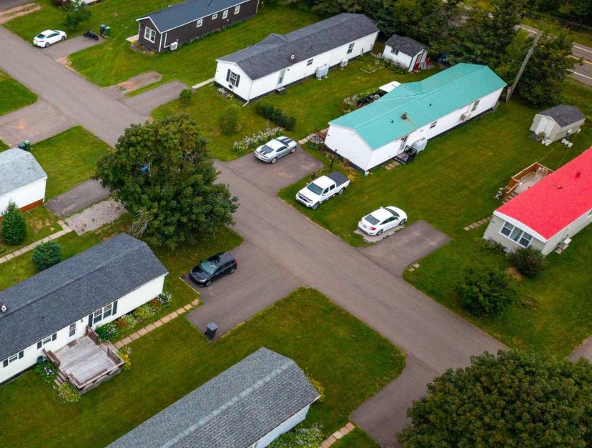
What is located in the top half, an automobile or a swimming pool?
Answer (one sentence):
What appears in the top half is an automobile.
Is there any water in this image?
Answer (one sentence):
No, there is no water in the image.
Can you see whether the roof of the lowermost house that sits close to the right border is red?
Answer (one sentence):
Yes, the roof of the lowermost house that sits close to the right border is red.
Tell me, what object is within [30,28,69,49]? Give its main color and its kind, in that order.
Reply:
white car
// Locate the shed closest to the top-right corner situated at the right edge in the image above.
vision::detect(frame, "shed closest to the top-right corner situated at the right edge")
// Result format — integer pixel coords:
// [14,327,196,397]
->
[528,103,585,143]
